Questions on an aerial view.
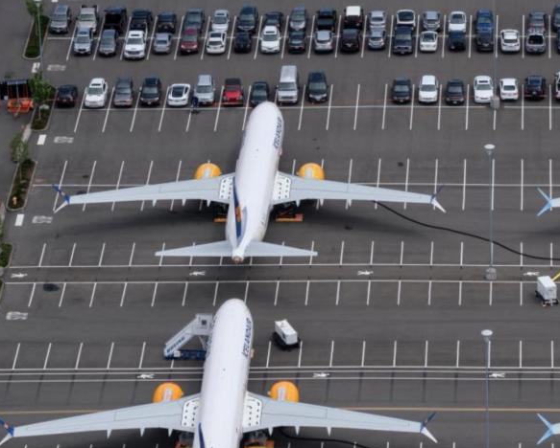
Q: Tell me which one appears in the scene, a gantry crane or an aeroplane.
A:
aeroplane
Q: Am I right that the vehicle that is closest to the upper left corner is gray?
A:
Yes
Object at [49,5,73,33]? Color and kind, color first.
gray vehicle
